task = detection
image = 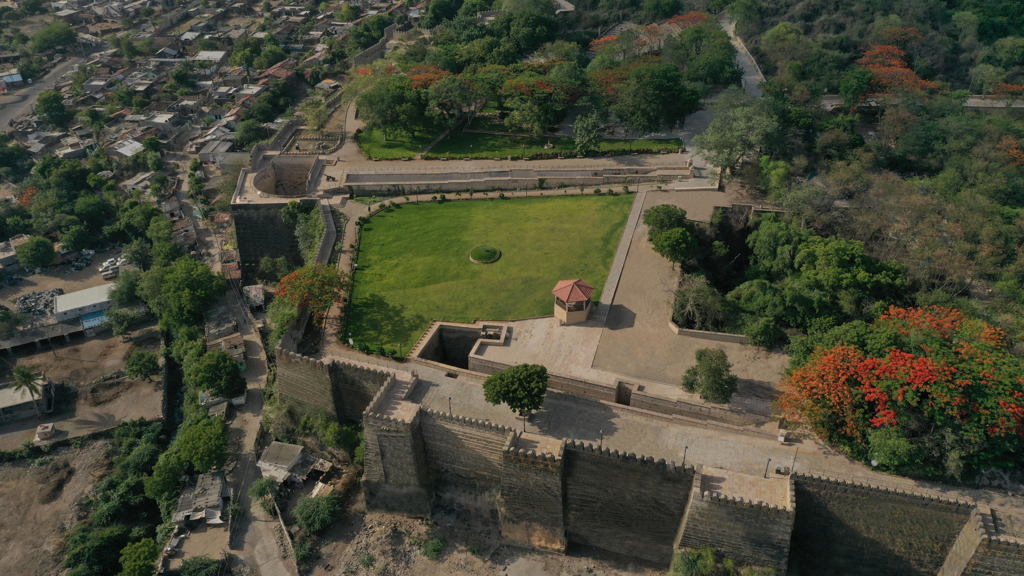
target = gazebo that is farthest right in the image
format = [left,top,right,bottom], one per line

[552,278,609,325]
